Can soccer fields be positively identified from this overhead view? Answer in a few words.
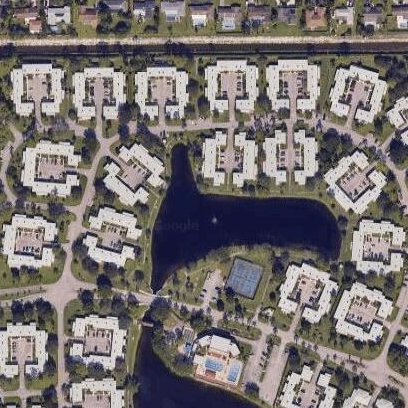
No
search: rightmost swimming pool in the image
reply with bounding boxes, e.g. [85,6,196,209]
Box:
[227,361,240,382]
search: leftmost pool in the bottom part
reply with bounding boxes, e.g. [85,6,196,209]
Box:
[205,359,223,372]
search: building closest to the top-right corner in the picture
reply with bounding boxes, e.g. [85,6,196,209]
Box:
[392,6,408,28]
